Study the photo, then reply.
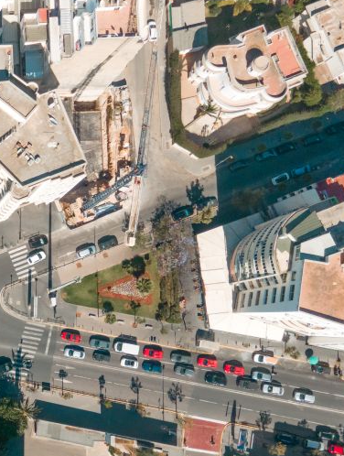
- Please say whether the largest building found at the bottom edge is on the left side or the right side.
left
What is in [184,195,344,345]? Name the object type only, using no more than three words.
building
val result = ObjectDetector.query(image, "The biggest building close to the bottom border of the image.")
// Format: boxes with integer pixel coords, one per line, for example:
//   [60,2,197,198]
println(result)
[32,420,136,454]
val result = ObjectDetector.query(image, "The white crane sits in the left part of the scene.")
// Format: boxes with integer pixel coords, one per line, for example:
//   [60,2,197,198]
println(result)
[73,0,166,247]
